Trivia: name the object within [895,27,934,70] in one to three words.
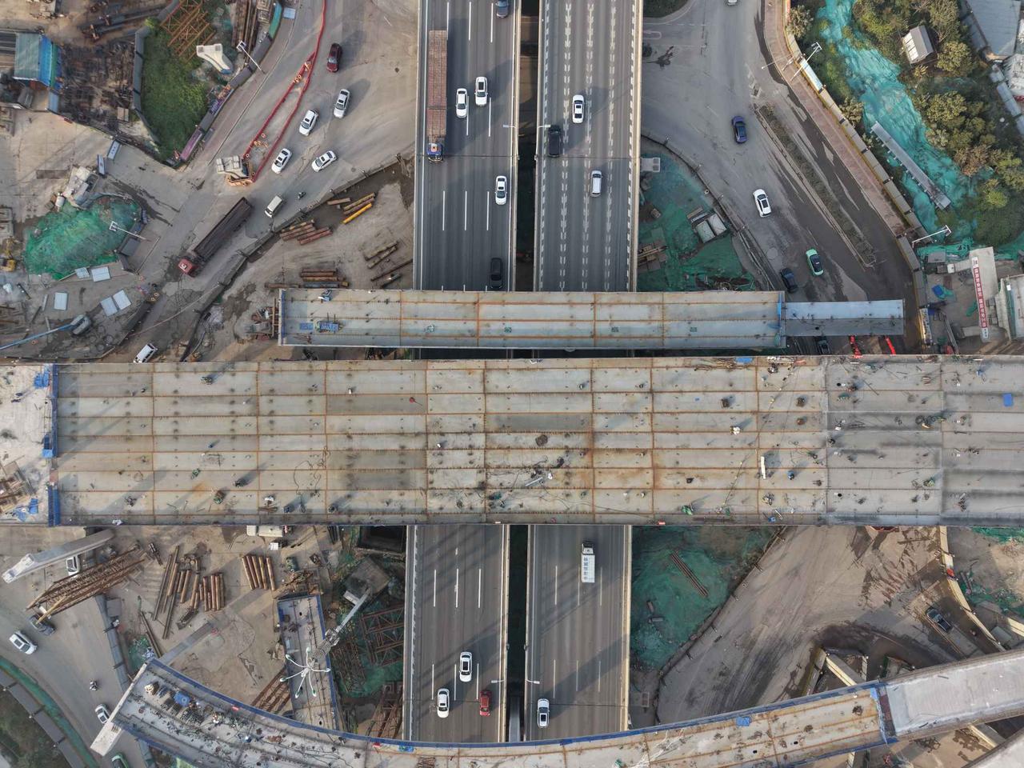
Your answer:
house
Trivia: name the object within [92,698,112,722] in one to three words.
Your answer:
car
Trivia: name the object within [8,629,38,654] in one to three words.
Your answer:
car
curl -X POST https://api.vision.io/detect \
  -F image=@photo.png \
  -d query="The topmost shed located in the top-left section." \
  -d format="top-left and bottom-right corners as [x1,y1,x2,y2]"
[6,33,70,93]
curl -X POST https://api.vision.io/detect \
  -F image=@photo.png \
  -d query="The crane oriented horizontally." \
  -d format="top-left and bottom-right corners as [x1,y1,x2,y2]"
[0,309,97,345]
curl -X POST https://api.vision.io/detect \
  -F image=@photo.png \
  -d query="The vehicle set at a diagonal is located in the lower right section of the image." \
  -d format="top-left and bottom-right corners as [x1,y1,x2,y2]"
[925,606,953,633]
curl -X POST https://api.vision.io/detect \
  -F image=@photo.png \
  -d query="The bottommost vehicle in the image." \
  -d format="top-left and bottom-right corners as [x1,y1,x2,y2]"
[109,746,133,768]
